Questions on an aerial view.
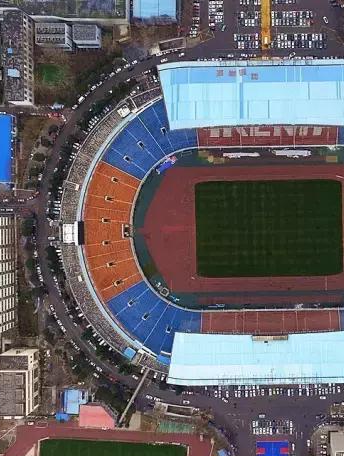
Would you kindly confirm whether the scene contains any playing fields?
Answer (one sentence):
Yes, a playing field is visible in the scene.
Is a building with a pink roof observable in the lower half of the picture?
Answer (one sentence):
Yes, the scene does show a building with a pink roof in the lower half of the picture.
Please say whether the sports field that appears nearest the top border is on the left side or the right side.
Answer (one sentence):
The sports field that appears nearest the top border appears in the right half of the scene.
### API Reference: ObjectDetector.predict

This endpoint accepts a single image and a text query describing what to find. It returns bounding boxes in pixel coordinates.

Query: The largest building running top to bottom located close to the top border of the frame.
[1,11,34,106]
